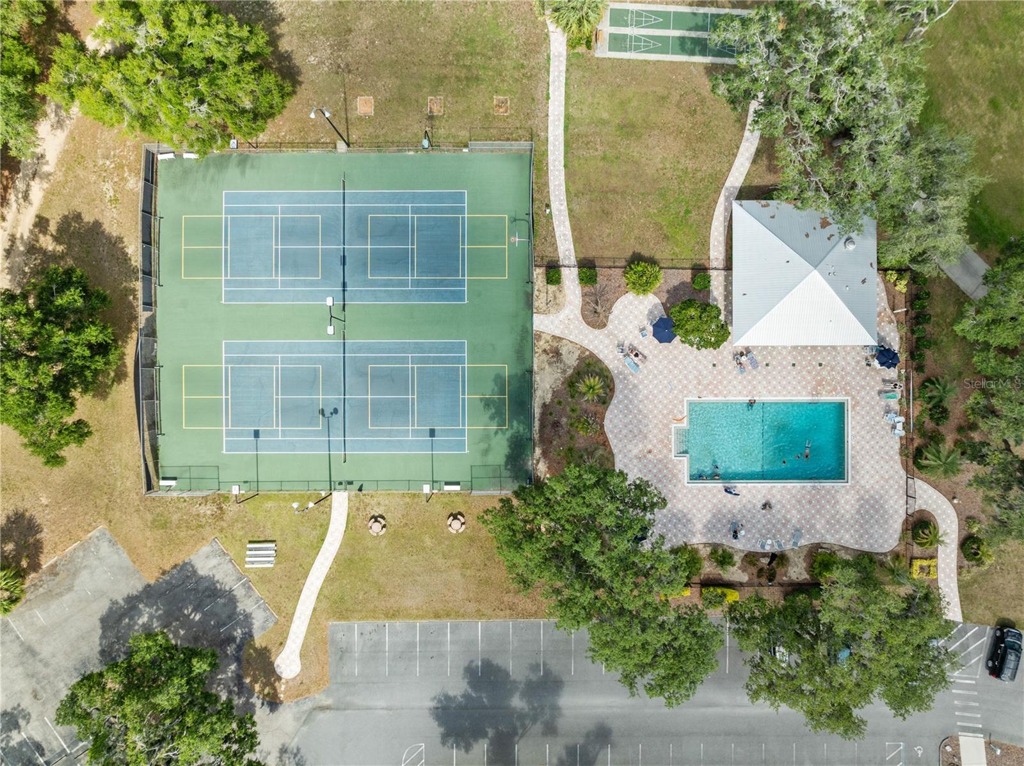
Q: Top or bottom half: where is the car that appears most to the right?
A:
bottom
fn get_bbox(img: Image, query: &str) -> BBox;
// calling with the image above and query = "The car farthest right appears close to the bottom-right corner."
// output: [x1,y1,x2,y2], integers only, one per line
[989,626,1024,682]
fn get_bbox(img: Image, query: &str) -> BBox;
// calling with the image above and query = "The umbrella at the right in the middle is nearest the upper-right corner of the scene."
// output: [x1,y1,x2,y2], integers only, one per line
[872,346,897,370]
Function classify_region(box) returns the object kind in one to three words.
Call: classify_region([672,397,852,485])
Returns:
swimming pool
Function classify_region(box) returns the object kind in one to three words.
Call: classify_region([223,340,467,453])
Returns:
tennis court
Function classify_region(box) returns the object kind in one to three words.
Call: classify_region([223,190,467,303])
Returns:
tennis court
